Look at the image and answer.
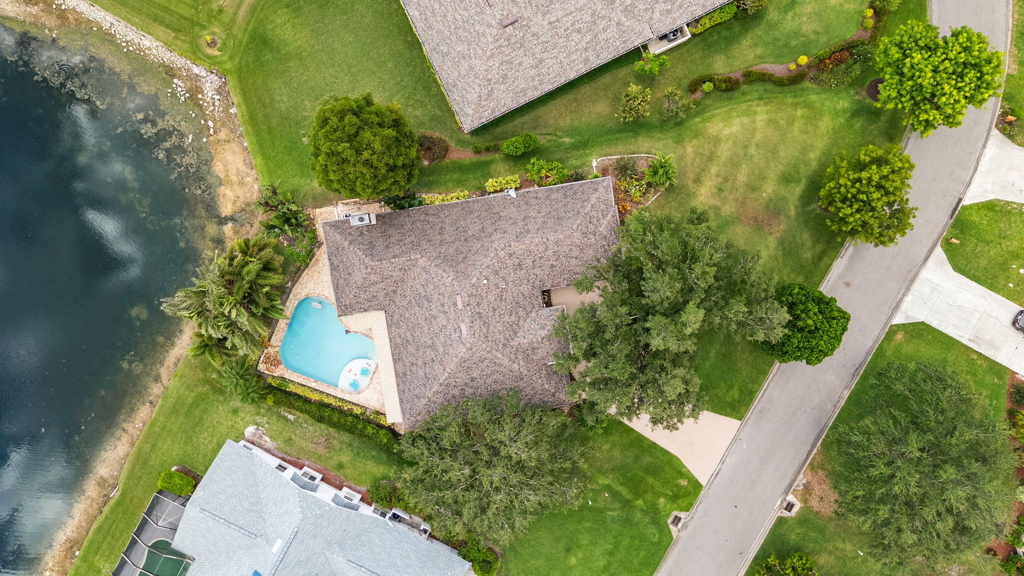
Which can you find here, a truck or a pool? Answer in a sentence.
It is a pool that can be seen here.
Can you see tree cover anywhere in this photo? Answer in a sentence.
Yes, there's tree cover in this view.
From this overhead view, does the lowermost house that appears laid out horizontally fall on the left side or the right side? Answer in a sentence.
The lowermost house that appears laid out horizontally appears in the left half of the scene.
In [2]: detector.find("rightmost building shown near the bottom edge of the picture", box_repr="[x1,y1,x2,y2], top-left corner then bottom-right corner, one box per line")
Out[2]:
[167,437,473,576]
